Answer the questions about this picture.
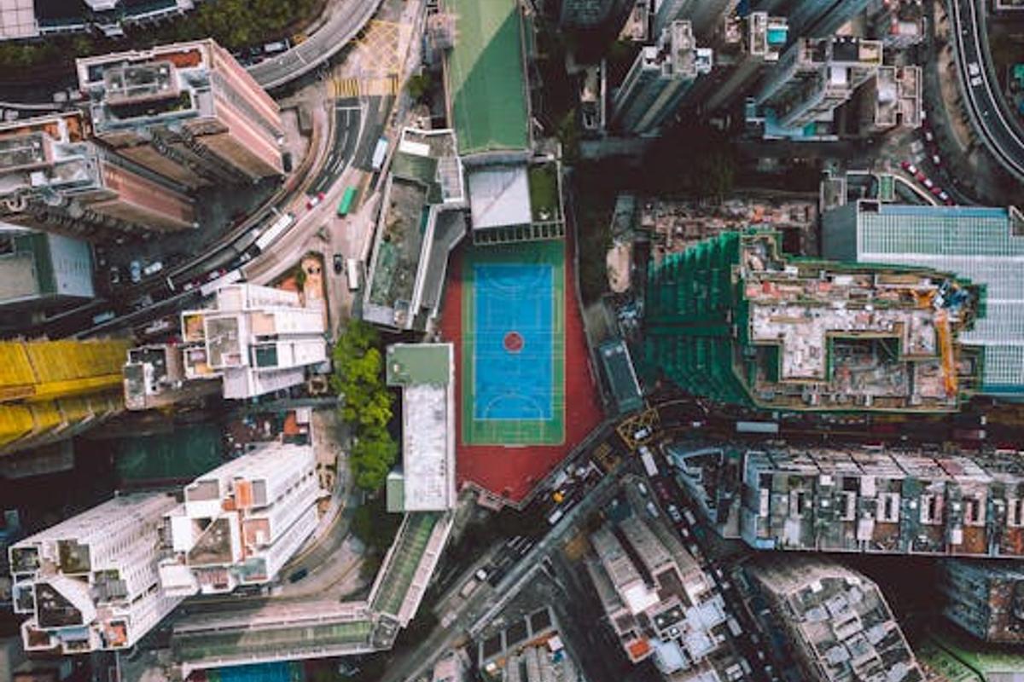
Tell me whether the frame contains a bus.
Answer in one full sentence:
Yes, looking at the shot, I can spot a bus.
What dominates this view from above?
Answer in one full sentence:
Most of the picture is covered by buildings.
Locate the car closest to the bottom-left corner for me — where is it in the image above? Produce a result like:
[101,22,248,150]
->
[289,565,310,583]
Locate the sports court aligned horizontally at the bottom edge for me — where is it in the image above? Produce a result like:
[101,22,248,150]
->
[178,655,328,682]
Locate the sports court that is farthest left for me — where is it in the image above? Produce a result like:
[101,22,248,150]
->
[111,416,228,484]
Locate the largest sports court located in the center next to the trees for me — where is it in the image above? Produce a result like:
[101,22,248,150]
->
[437,223,605,504]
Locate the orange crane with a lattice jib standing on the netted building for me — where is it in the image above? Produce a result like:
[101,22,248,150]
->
[913,279,970,395]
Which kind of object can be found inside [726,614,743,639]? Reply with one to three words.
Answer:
vehicle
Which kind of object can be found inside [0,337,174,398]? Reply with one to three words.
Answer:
building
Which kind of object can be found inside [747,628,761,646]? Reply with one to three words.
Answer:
car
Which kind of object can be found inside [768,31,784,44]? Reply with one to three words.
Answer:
swimming pool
